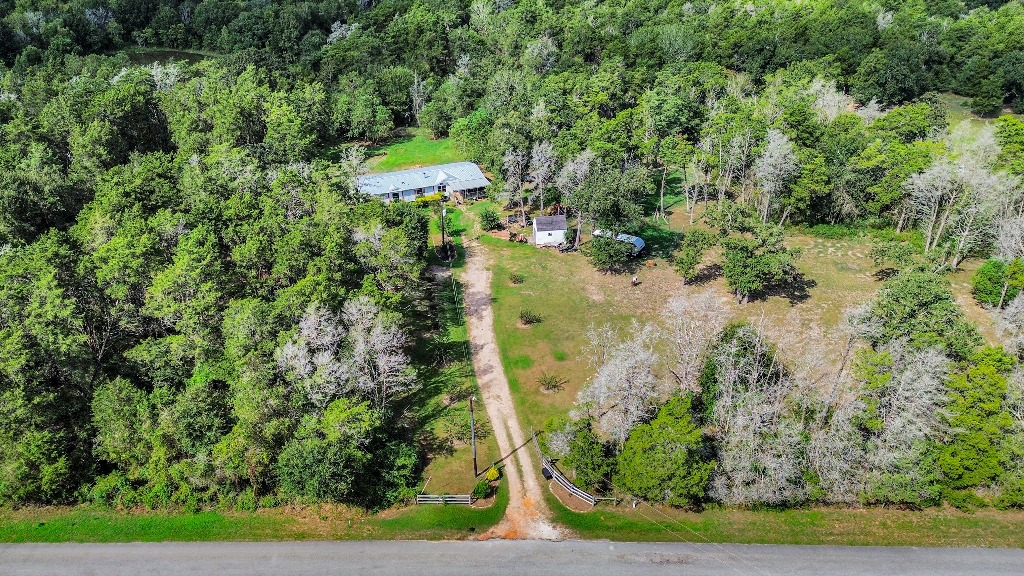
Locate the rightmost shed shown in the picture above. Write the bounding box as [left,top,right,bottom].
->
[525,214,568,246]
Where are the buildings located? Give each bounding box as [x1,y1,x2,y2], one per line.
[525,214,568,246]
[357,161,491,209]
